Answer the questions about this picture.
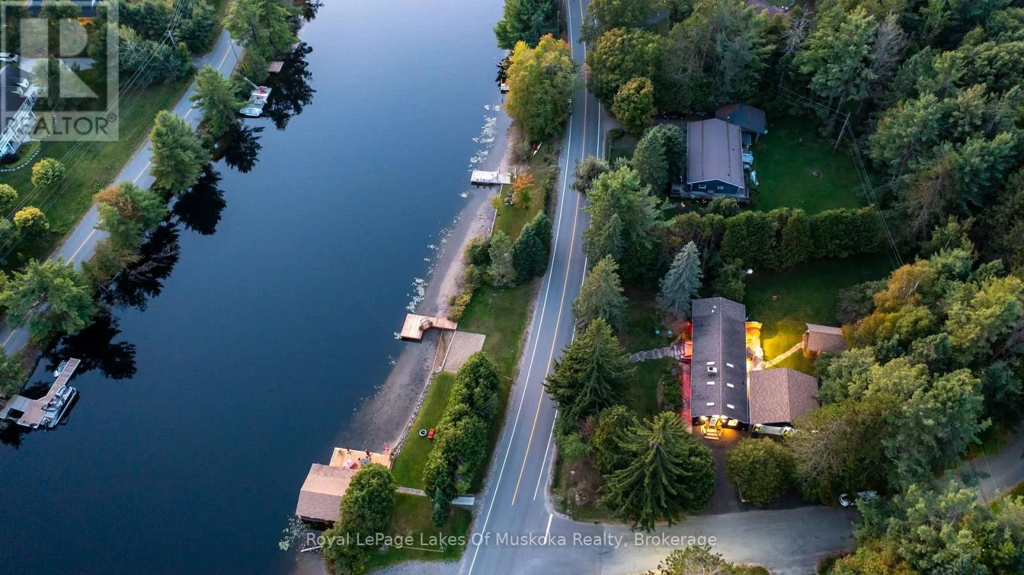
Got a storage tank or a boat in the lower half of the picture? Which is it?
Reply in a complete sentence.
Visible in the lower half of the picture is a boat.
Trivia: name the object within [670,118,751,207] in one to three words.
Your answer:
house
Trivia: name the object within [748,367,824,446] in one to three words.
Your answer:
building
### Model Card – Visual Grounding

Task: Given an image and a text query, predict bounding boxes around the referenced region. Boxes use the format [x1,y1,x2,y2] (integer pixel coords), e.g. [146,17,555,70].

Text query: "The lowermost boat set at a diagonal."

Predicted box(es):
[42,387,84,430]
